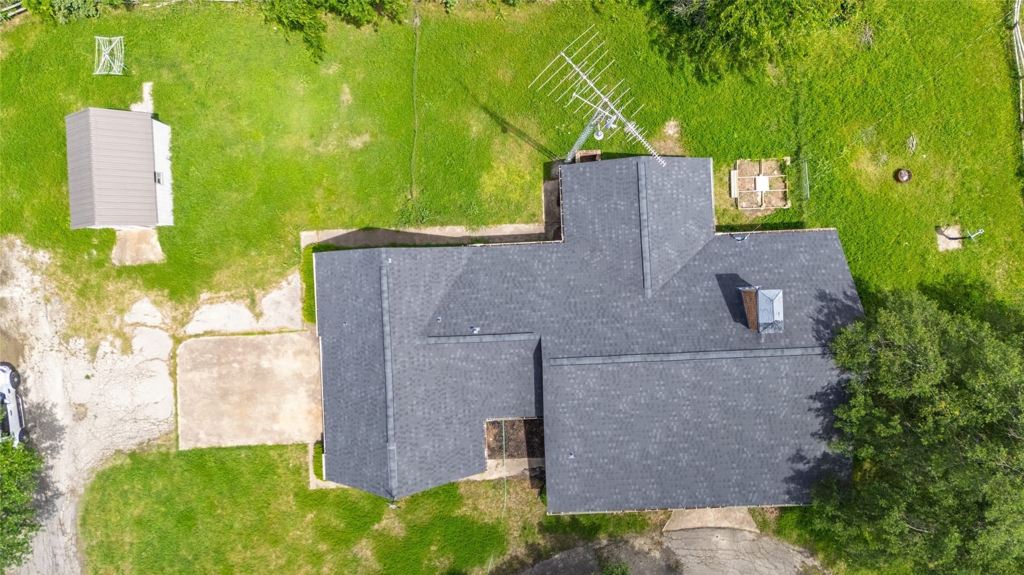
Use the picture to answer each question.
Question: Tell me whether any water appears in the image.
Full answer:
No, there is no water in the image.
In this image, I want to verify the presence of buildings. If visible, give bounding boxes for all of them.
[312,155,873,517]
[64,107,176,231]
